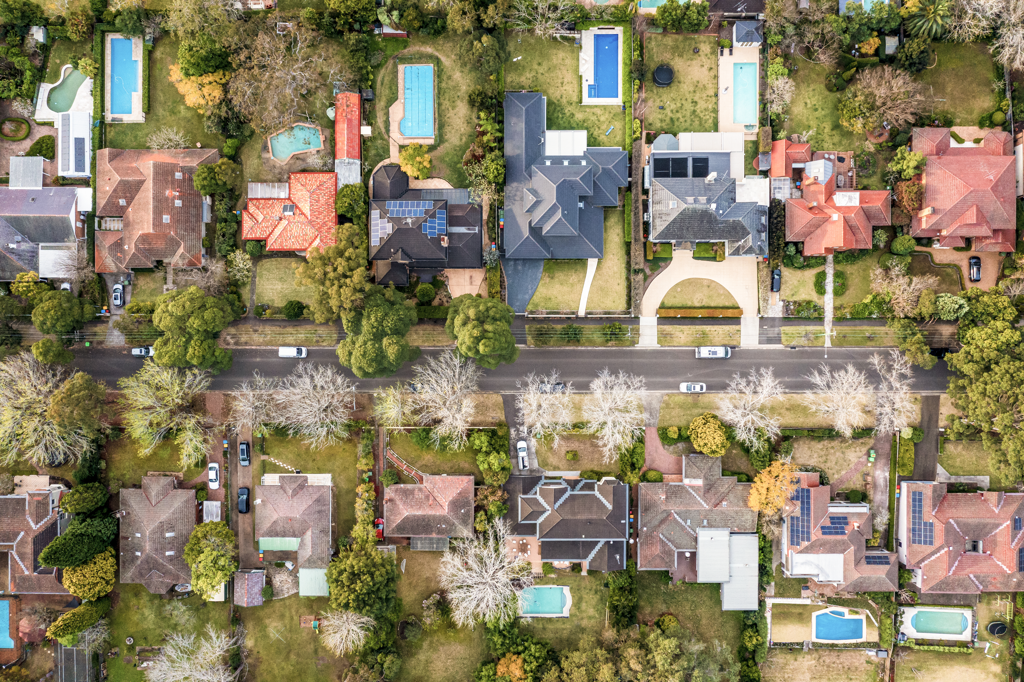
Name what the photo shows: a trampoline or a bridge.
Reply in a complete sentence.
The image shows a trampoline.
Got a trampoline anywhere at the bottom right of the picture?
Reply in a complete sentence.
Yes, you'll find a trampoline at the bottom right of the picture.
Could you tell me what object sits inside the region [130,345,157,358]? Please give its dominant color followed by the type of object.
white vehicle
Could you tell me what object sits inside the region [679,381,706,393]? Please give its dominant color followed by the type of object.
white vehicle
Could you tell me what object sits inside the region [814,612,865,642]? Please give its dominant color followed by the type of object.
blue swimming pool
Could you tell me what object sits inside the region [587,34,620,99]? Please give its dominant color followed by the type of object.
blue swimming pool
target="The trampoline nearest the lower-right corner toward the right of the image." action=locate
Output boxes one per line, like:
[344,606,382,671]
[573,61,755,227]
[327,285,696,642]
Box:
[986,617,1015,642]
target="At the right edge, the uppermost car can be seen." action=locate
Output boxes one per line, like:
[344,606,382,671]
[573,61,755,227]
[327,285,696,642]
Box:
[967,256,983,283]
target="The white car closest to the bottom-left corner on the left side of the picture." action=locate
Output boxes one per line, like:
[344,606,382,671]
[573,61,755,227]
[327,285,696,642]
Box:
[207,463,221,489]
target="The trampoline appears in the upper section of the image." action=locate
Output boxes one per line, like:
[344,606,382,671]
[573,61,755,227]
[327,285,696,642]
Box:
[654,61,677,87]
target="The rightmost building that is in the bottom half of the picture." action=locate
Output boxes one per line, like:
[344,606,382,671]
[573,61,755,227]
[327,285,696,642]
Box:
[894,479,1024,594]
